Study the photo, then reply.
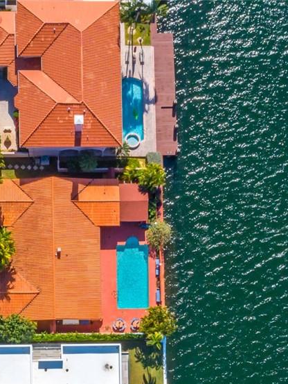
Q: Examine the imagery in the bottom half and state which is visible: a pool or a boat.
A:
pool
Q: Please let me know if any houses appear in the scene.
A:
Yes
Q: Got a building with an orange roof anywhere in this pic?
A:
Yes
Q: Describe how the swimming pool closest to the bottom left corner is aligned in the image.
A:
up and down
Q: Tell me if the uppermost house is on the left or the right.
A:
left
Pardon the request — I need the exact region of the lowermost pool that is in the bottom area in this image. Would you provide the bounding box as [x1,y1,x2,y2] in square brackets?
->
[115,234,150,310]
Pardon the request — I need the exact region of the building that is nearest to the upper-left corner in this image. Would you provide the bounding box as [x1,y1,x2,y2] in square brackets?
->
[0,0,123,164]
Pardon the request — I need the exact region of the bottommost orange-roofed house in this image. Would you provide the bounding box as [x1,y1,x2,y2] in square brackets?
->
[0,176,148,325]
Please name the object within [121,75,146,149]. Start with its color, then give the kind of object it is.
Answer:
blue swimming pool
